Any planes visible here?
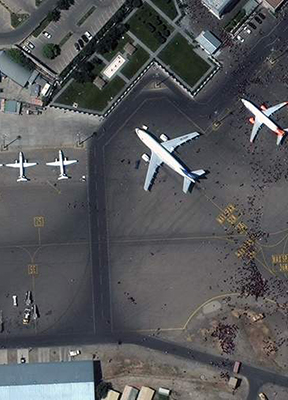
Yes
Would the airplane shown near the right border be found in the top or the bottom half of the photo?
top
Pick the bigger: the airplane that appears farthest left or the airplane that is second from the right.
the airplane that is second from the right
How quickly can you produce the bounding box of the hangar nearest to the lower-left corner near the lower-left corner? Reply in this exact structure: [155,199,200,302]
[0,360,96,400]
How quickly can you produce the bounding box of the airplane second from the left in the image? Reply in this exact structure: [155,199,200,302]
[45,151,77,179]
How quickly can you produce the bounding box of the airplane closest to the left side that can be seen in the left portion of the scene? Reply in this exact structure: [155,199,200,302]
[5,152,36,180]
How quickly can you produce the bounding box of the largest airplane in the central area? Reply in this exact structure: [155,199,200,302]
[135,128,206,192]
